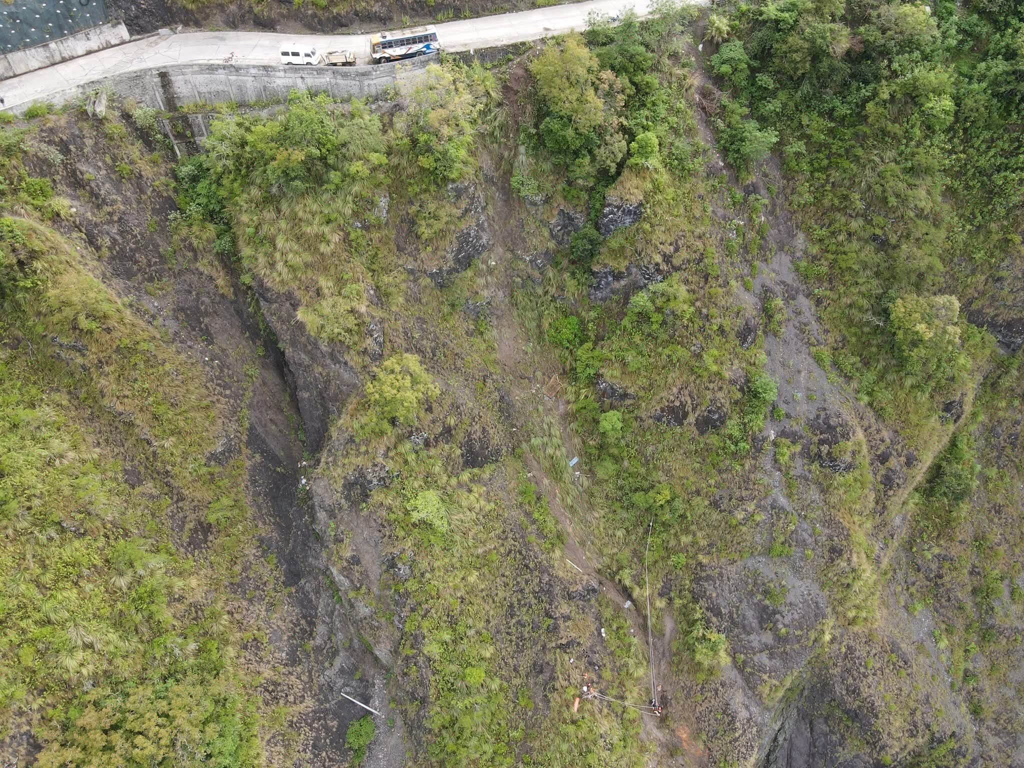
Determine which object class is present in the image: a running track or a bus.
bus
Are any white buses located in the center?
No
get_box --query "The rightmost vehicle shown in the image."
[365,20,441,64]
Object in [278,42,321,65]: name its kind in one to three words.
vehicle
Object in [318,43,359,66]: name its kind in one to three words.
truck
